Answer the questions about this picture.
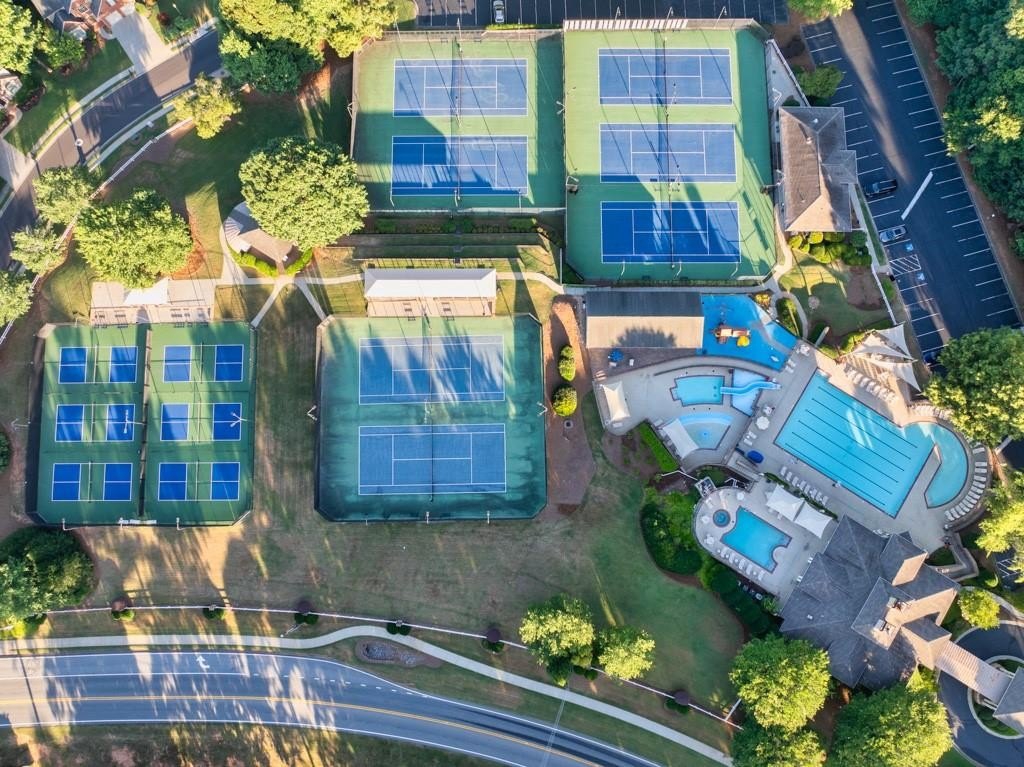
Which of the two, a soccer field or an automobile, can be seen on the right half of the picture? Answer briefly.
automobile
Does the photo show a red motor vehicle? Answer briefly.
No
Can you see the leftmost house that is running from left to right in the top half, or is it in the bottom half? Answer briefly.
top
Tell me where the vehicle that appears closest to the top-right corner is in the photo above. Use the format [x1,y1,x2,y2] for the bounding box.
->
[867,179,898,197]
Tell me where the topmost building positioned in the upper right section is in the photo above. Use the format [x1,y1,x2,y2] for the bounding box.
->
[774,107,860,235]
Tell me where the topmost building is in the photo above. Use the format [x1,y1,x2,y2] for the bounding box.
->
[38,0,143,44]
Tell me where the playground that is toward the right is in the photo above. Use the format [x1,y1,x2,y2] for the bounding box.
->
[702,292,799,372]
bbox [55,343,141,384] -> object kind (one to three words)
sports court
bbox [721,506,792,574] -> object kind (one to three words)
swimming pool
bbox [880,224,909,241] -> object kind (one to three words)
car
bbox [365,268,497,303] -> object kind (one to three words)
building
